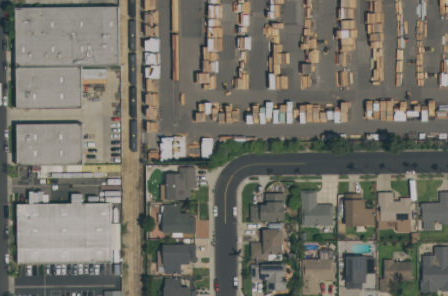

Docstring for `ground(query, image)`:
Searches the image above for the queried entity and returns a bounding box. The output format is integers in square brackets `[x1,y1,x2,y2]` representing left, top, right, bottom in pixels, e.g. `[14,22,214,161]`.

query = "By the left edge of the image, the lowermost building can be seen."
[16,204,114,266]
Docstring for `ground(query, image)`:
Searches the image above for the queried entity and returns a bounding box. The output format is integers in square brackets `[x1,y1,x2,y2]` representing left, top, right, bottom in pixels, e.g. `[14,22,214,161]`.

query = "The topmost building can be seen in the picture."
[14,7,118,68]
